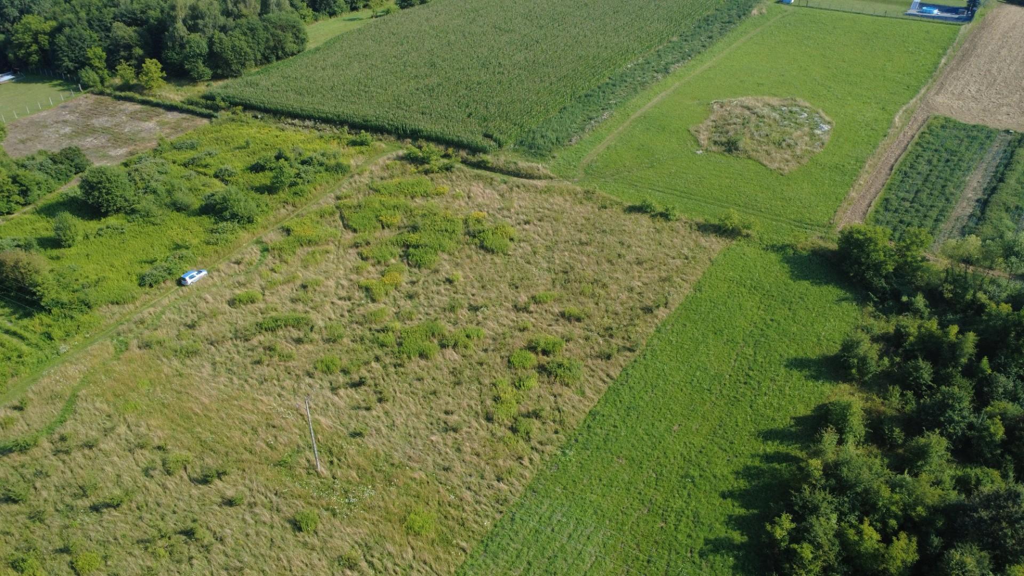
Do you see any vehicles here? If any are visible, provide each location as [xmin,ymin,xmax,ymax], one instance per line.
[178,270,205,287]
